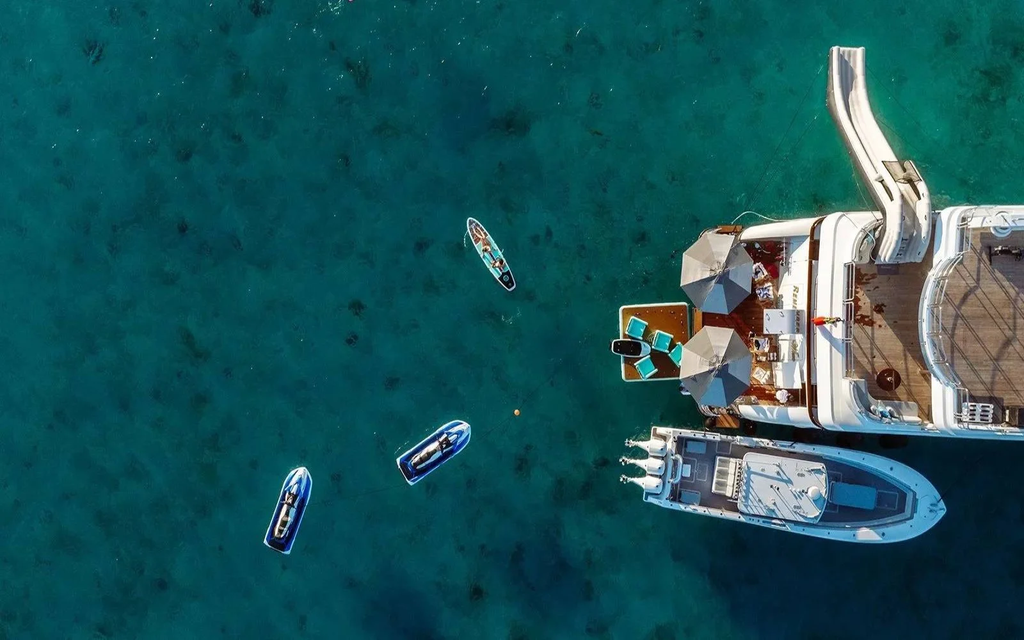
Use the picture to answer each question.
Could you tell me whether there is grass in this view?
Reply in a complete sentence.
No, there's no grass in this view.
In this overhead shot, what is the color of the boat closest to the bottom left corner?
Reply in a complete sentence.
The boat closest to the bottom left corner looks blue in the image.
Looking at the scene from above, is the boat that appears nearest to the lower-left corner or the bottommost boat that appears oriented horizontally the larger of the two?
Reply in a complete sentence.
The bottommost boat that appears oriented horizontally covers a greater area than the boat that appears nearest to the lower-left corner.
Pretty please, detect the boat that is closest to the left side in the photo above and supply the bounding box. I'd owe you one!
[262,468,310,554]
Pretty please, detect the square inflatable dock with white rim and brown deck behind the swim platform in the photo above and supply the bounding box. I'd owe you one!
[618,302,691,383]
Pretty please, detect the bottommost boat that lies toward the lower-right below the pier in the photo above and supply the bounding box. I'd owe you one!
[614,425,947,543]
